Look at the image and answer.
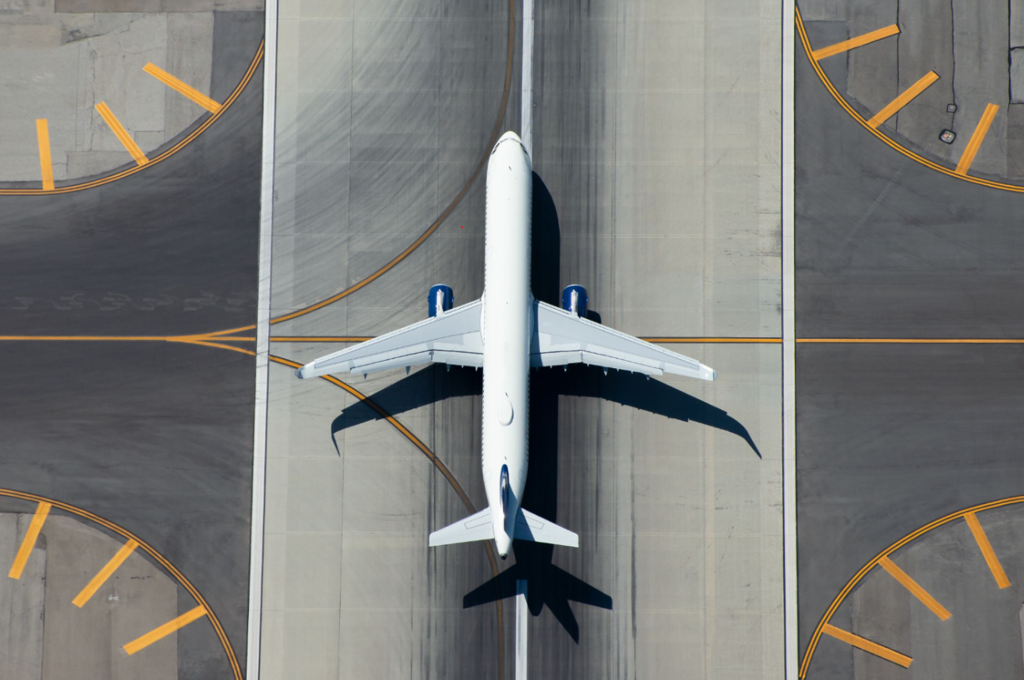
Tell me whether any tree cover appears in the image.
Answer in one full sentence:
No, no tree cover is visible.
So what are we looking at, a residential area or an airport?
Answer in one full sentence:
The picture captures an airport.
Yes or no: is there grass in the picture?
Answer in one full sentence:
No, no grass is visible.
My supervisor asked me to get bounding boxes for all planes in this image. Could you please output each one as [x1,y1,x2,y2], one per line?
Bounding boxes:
[295,131,717,562]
